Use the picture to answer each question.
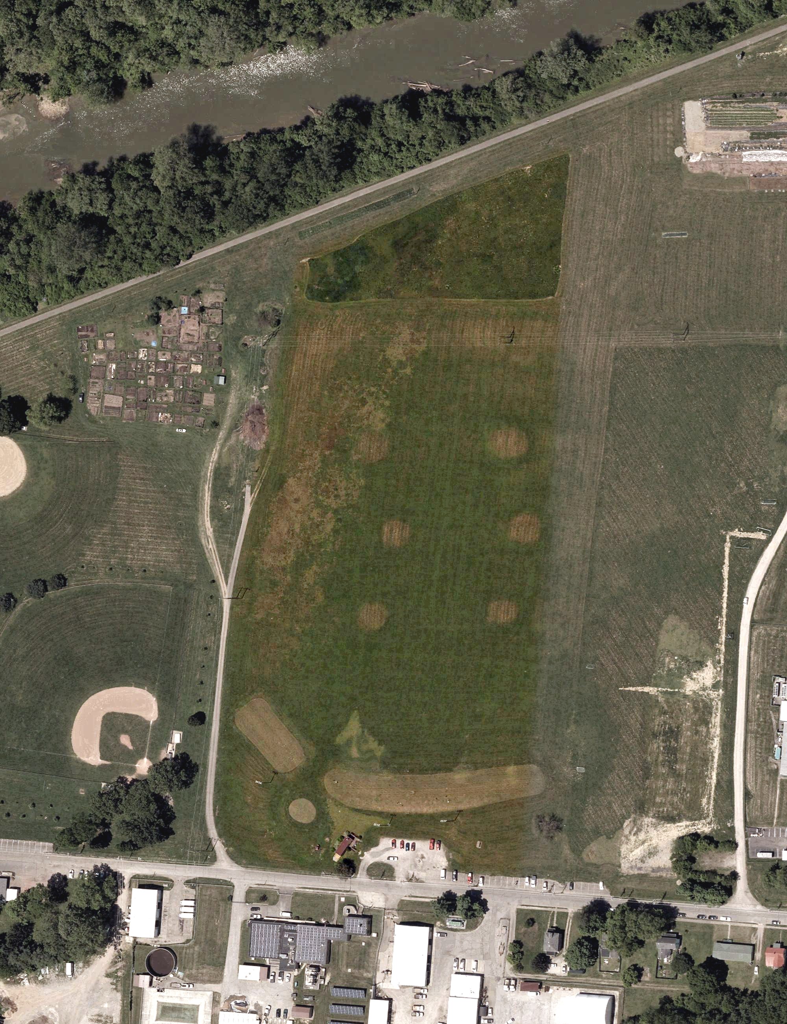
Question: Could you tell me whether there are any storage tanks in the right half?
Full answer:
No, no storage tank can be made out in the right half.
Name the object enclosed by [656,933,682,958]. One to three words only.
house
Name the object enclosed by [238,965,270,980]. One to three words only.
building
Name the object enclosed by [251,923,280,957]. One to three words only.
solar array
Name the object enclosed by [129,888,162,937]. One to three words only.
building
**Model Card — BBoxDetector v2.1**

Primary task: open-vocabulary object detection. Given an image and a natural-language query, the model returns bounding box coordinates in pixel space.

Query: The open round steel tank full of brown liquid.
[145,947,178,977]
